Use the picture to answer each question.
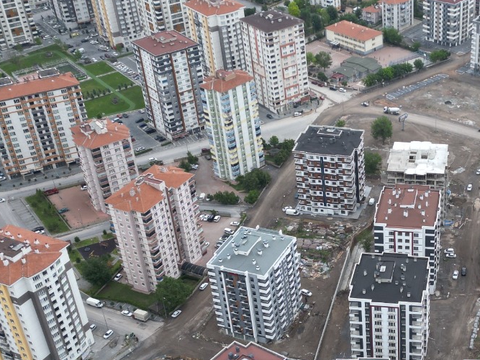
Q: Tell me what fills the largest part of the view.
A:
buildings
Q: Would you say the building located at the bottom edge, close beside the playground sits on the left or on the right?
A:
left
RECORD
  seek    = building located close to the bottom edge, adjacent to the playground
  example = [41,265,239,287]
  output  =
[0,226,91,360]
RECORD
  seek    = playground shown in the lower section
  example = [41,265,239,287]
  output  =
[74,235,116,259]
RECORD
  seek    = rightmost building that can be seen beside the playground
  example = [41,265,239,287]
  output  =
[105,165,205,286]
